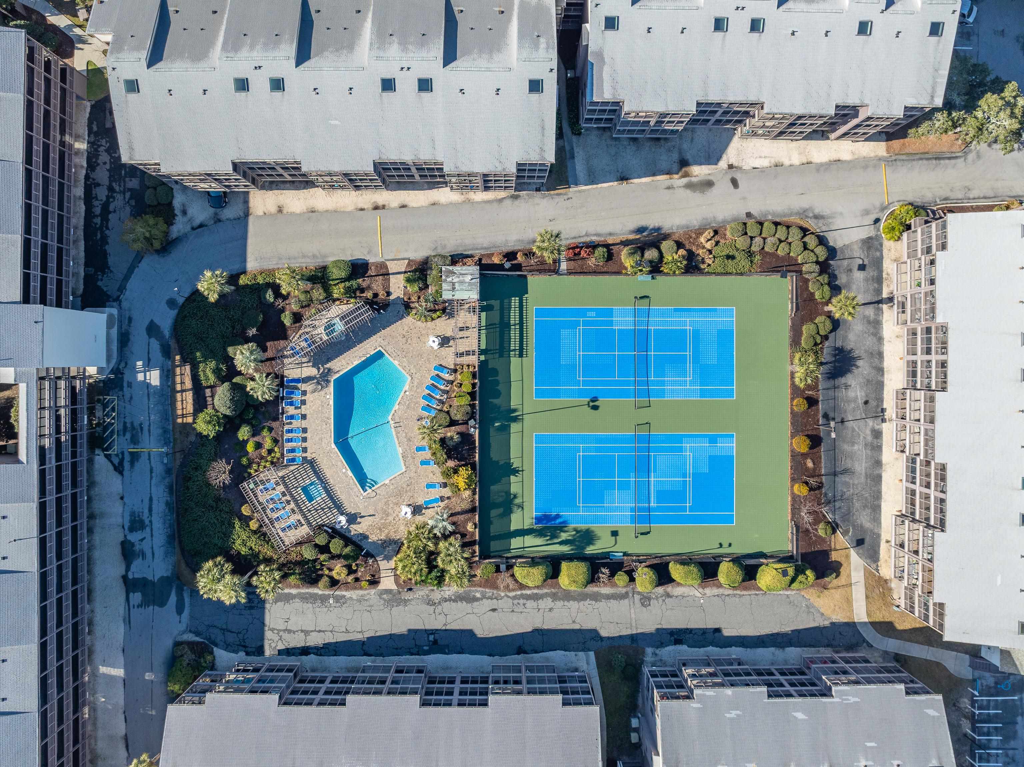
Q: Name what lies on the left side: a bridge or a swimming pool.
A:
swimming pool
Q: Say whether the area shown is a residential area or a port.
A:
residential area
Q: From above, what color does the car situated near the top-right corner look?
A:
blue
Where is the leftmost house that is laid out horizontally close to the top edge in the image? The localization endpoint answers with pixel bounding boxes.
[84,0,556,191]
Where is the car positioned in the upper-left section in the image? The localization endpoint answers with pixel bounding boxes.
[207,191,228,209]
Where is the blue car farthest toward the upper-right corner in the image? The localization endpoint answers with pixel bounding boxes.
[955,1,983,24]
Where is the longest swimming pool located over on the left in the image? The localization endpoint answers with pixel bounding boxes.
[330,346,412,499]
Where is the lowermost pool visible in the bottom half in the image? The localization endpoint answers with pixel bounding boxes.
[299,479,325,504]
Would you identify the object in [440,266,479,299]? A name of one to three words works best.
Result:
shed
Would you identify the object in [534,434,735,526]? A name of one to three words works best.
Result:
tennis court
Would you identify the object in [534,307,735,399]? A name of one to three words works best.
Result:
tennis court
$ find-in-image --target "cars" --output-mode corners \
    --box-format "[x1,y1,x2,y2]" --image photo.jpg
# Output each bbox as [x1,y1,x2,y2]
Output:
[955,1,983,24]
[207,191,228,209]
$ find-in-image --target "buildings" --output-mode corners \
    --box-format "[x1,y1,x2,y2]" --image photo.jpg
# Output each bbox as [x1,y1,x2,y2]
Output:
[440,266,479,299]
[162,660,601,767]
[0,27,108,767]
[890,211,1024,647]
[84,0,556,191]
[577,0,959,141]
[631,652,952,767]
